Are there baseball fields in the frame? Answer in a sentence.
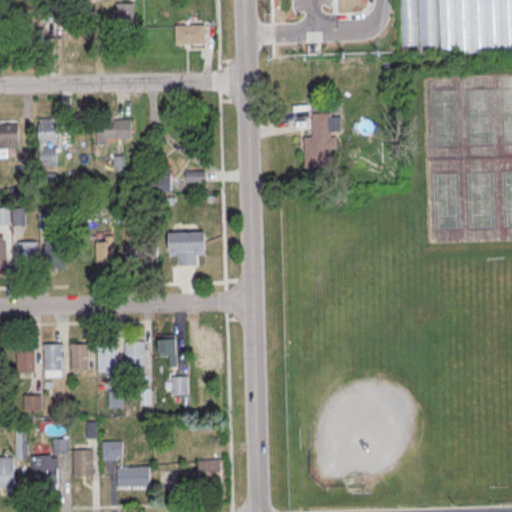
Yes, there's a baseball field here.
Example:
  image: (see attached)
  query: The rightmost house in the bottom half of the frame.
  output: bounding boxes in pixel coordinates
[198,460,221,482]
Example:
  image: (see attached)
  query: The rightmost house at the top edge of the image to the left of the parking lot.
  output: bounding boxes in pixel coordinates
[175,25,204,48]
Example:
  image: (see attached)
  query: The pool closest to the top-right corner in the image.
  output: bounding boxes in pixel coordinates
[356,118,374,136]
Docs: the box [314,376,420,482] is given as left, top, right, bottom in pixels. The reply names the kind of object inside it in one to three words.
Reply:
baseball field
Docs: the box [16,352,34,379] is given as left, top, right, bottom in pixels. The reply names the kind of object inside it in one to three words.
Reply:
house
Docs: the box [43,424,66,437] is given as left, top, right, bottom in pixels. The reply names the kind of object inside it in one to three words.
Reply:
swimming pool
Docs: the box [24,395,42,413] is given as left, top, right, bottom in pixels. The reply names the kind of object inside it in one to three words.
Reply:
building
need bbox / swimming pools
[356,118,374,136]
[43,424,66,437]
